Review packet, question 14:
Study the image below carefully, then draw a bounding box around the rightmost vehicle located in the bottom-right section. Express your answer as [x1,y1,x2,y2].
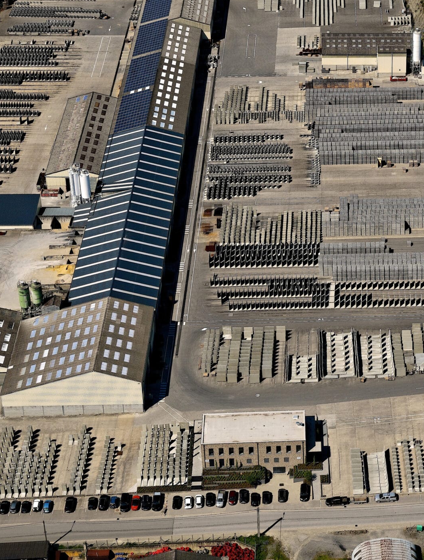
[374,492,397,504]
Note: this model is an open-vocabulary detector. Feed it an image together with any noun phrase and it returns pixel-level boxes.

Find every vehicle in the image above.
[193,496,203,510]
[130,498,140,513]
[239,489,248,506]
[20,501,30,515]
[142,495,152,512]
[41,500,51,515]
[205,494,215,509]
[278,488,287,505]
[30,500,41,514]
[0,502,10,516]
[97,495,109,512]
[64,495,75,515]
[172,497,182,511]
[183,497,192,511]
[8,499,20,516]
[250,494,259,508]
[216,493,226,510]
[108,497,118,511]
[325,496,349,507]
[151,492,162,513]
[86,497,96,511]
[374,492,397,504]
[119,493,130,513]
[227,493,237,508]
[299,483,309,504]
[263,492,271,506]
